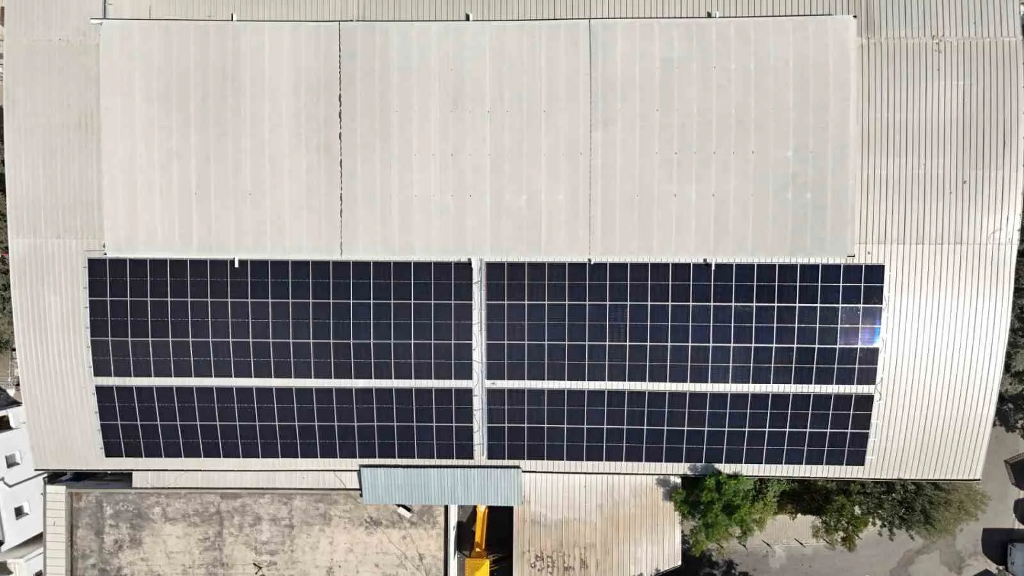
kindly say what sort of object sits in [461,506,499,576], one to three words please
work vehicle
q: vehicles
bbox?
[461,506,499,576]
[990,536,1024,576]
